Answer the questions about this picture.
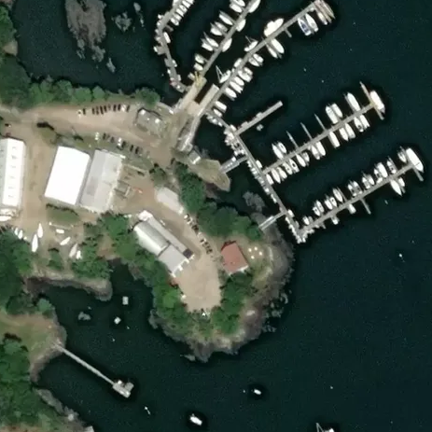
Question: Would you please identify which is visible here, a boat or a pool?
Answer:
boat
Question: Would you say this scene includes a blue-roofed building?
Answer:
No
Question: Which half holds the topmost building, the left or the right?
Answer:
left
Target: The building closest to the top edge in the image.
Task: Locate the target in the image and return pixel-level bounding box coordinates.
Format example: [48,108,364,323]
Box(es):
[137,108,162,131]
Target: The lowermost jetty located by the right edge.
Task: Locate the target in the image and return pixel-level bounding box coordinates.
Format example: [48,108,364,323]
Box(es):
[300,152,423,238]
